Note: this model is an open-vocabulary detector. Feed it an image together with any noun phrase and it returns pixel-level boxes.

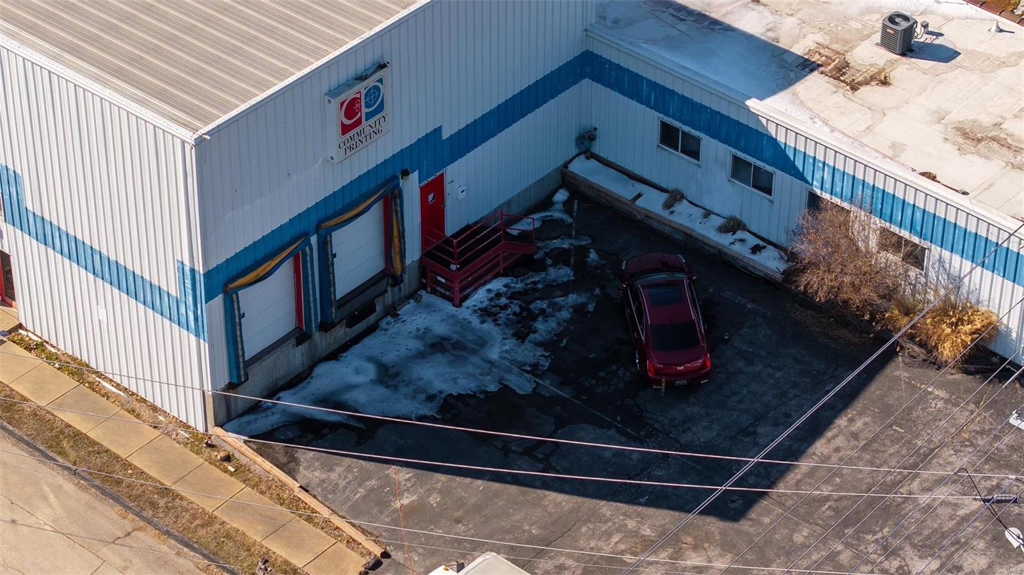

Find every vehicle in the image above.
[617,253,711,388]
[423,554,523,575]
